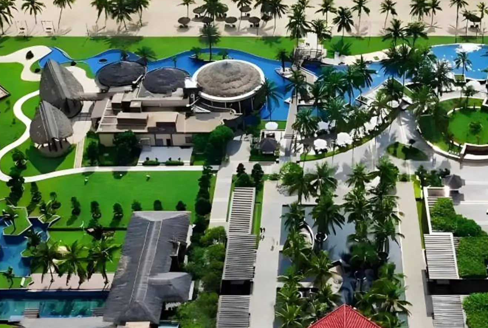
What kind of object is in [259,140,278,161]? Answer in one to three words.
gazebo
